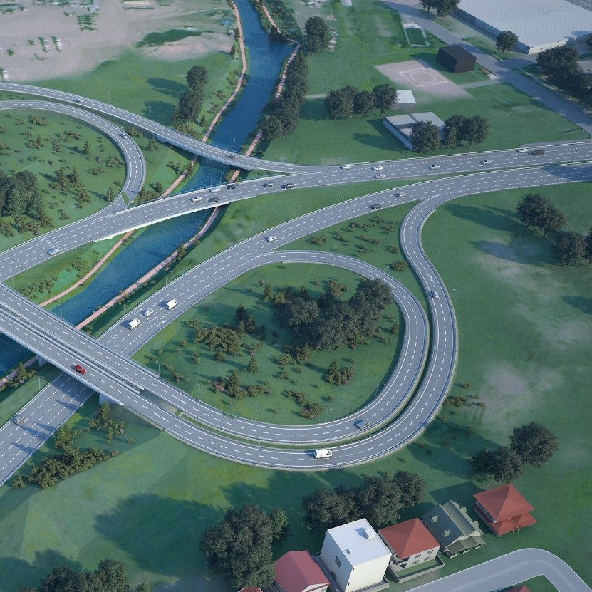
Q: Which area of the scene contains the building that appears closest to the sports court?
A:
top right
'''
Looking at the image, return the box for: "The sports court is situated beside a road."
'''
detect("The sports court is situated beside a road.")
[398,23,433,46]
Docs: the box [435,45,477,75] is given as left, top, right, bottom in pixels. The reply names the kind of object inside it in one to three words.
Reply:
building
